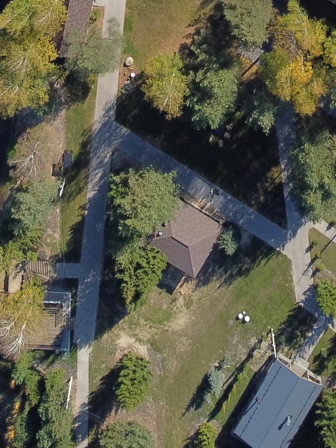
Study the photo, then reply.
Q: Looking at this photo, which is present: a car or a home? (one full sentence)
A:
I can see a home in this picture.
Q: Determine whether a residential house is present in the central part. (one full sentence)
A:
Yes, I can see a residential house in the central part.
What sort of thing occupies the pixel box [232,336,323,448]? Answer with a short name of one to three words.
building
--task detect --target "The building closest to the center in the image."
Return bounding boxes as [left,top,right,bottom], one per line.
[144,200,223,295]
